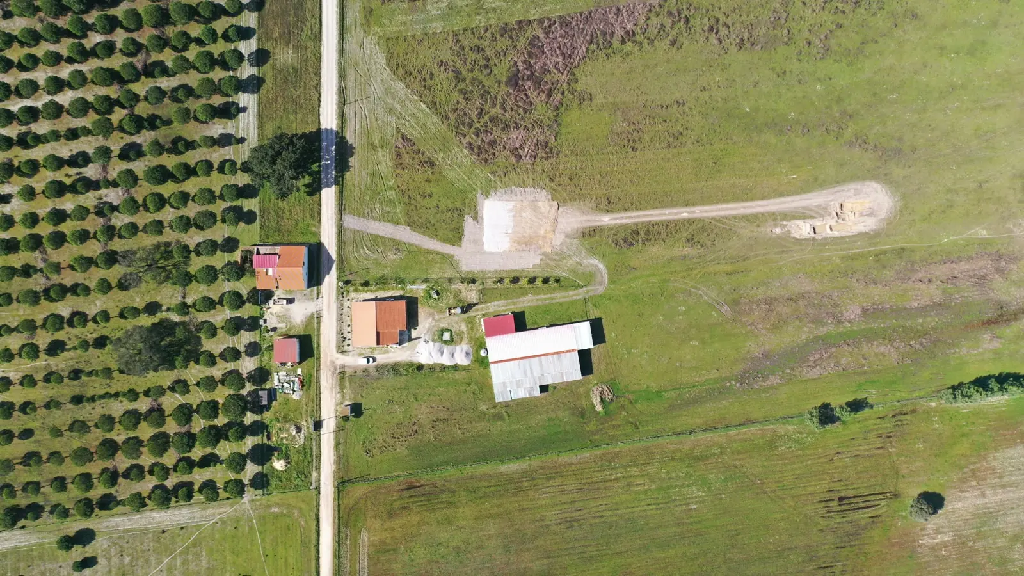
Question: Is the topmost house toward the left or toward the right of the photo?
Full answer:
You can find the topmost house on the left side of the picture.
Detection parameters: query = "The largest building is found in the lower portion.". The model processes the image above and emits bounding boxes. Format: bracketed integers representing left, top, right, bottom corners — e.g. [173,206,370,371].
[480,313,593,402]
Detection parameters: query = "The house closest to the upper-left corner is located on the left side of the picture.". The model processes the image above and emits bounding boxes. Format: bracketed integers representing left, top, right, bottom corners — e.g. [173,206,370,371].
[253,246,308,289]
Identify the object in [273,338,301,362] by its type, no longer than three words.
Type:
shed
